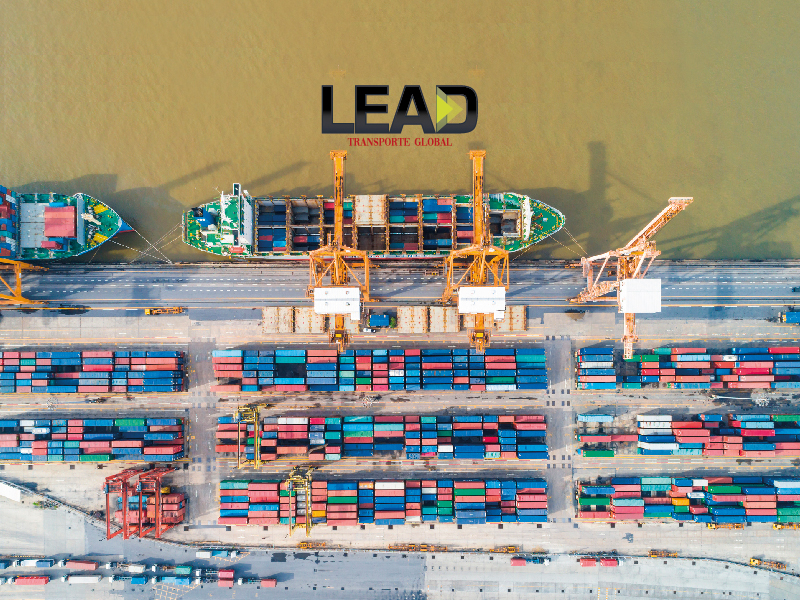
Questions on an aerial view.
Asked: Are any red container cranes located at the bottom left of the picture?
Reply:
Yes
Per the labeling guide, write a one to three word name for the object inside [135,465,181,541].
container crane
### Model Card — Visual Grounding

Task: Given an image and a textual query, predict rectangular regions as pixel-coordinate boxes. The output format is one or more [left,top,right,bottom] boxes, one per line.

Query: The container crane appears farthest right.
[569,191,697,361]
